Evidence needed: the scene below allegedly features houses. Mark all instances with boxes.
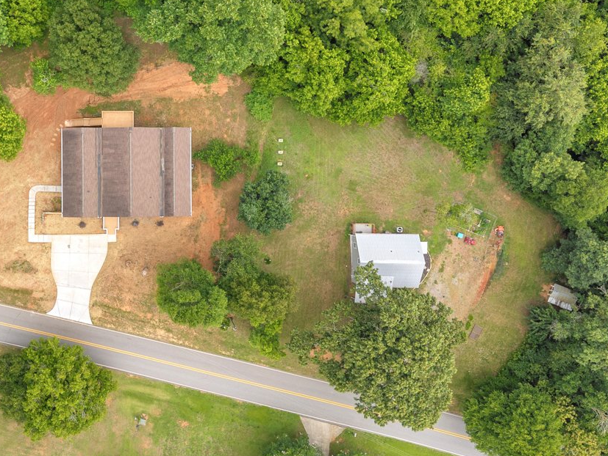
[61,127,193,234]
[351,223,428,303]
